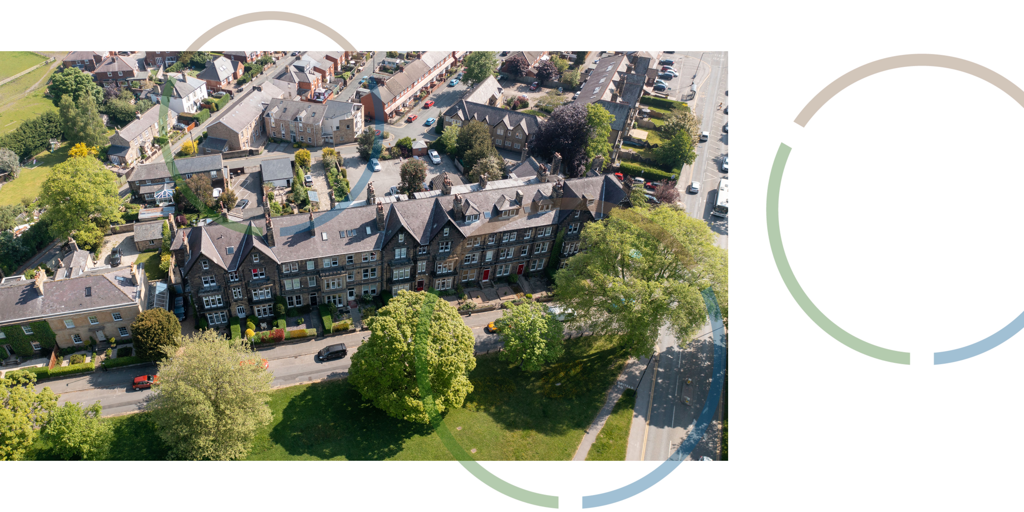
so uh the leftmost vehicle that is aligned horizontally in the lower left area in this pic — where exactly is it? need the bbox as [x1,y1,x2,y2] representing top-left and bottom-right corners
[127,372,160,390]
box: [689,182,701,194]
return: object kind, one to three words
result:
vehicle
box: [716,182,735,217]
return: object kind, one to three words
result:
vehicle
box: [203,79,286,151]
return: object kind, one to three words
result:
building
